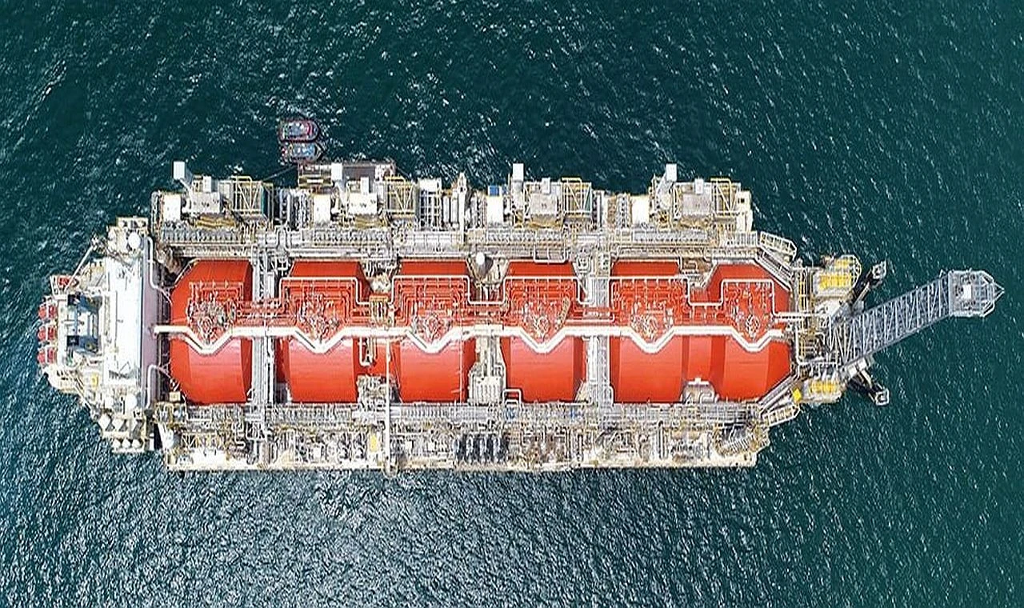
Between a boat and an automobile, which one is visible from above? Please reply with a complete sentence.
Of the two, only a boat appears.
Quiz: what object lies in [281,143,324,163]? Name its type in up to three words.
boat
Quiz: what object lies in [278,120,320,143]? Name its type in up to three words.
boat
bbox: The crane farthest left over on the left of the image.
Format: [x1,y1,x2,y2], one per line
[62,240,110,292]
